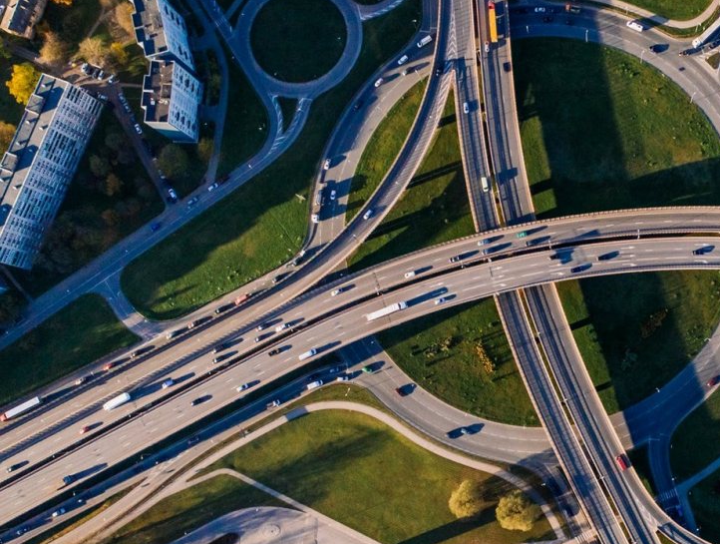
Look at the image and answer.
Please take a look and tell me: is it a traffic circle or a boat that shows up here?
traffic circle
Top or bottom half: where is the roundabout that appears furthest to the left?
top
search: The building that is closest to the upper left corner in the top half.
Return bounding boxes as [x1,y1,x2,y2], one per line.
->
[0,0,56,42]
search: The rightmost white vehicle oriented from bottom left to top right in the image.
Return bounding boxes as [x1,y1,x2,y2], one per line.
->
[693,16,720,46]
